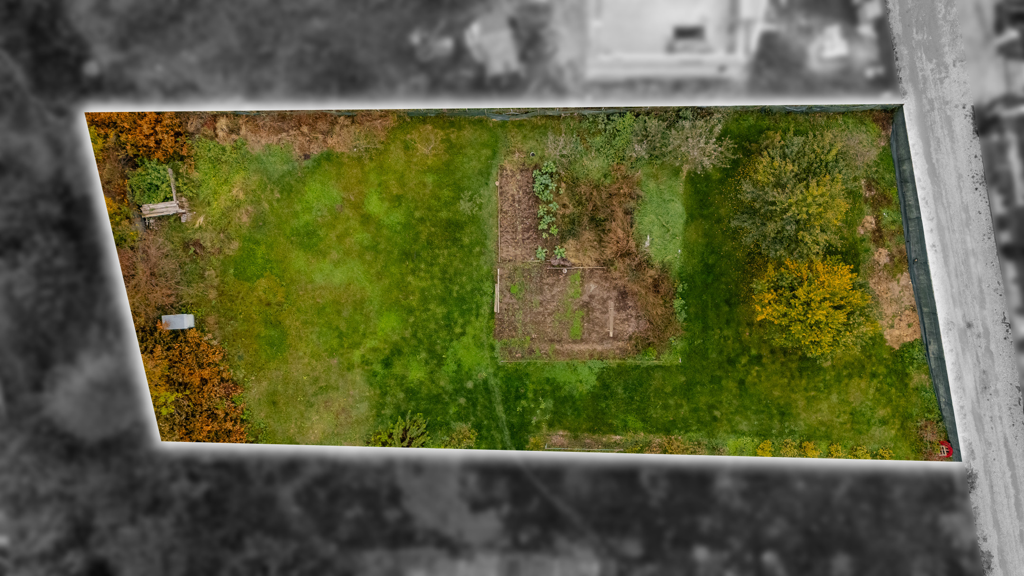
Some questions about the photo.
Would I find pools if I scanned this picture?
No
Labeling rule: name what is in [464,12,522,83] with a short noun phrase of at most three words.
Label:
shed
